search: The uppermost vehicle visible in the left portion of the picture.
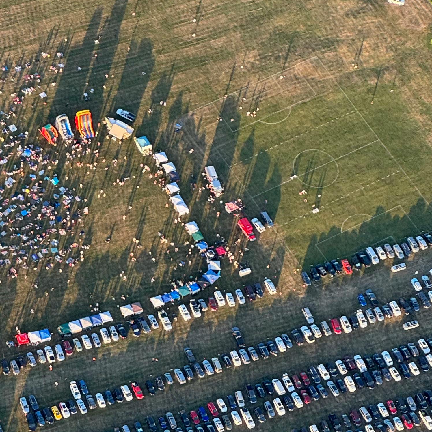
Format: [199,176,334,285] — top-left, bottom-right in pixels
[117,109,135,122]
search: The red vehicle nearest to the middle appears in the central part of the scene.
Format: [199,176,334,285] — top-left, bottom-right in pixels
[236,218,254,243]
